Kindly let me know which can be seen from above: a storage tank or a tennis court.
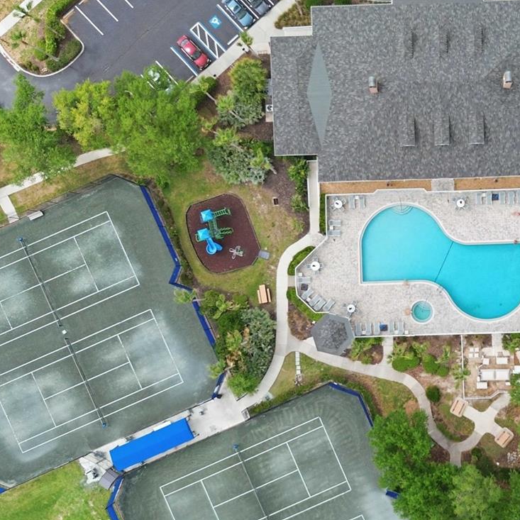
tennis court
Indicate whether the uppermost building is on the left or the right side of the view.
right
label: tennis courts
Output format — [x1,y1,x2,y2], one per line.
[131,387,408,520]
[0,181,221,395]
[0,304,211,483]
[116,475,235,520]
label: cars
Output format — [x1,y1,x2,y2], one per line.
[141,59,161,86]
[246,0,268,14]
[174,33,208,68]
[221,0,252,27]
